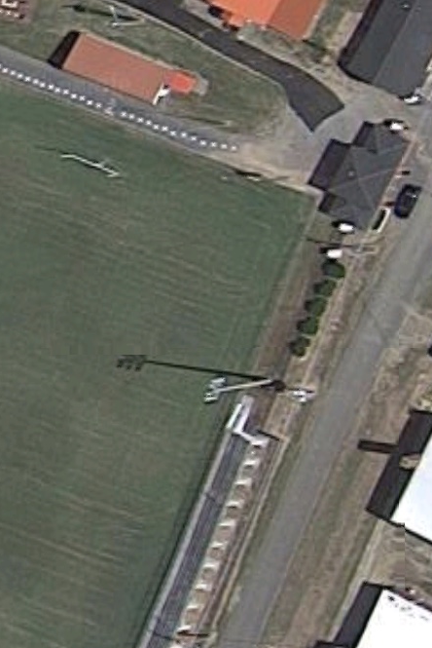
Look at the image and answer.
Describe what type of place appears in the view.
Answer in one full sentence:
The area seen from above is a sports ground.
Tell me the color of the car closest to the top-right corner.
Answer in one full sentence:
The car closest to the top-right corner is black.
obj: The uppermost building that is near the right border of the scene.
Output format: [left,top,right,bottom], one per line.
[347,0,432,95]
